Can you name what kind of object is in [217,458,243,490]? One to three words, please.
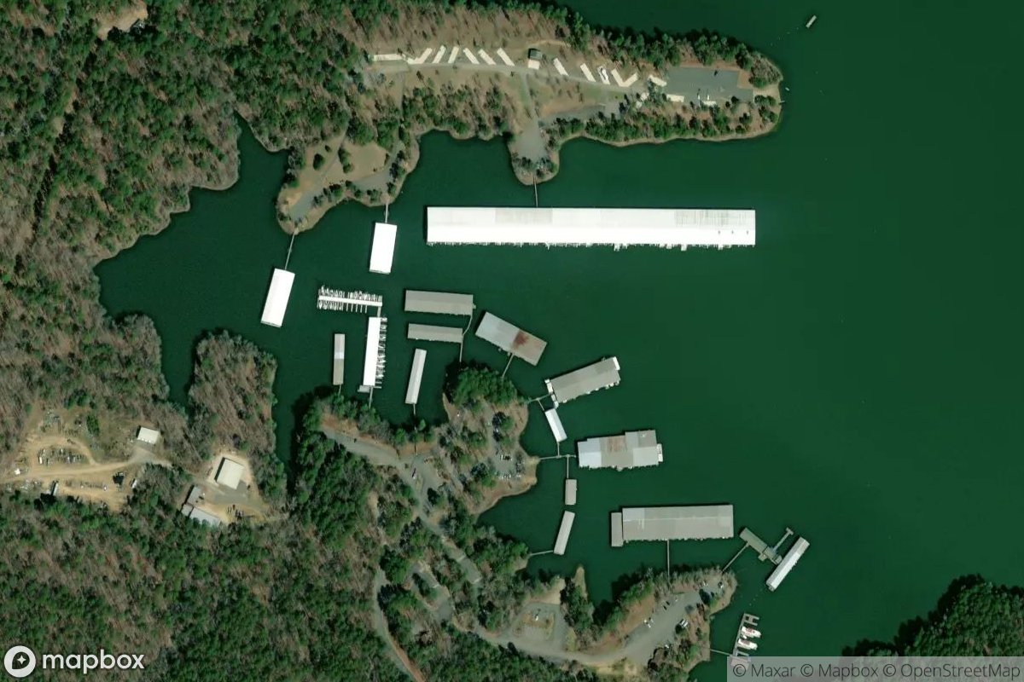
barn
